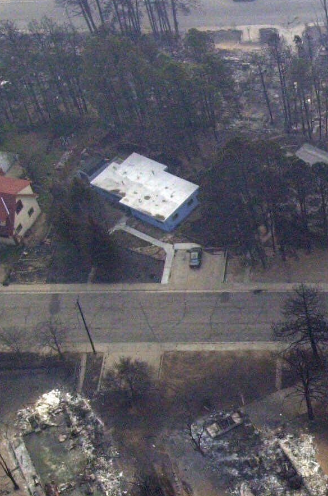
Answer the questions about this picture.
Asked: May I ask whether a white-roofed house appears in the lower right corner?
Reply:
No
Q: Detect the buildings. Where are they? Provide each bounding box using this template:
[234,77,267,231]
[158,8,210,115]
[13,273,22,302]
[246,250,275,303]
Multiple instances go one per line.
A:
[293,137,328,168]
[90,153,197,231]
[0,162,47,244]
